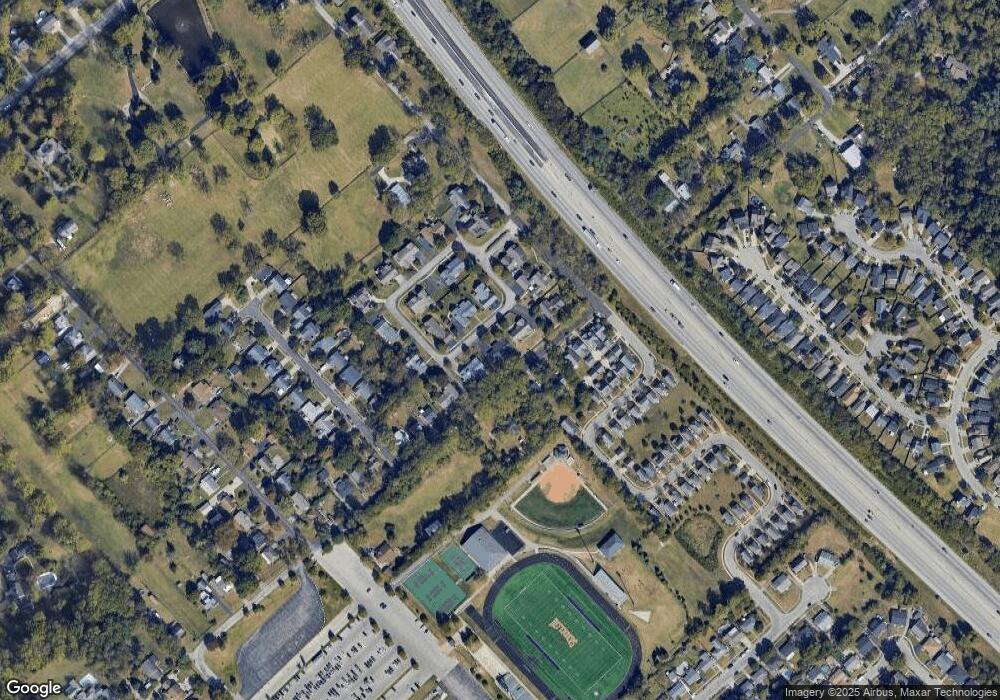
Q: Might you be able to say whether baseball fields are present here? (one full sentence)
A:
Yes, this view includes a baseball field.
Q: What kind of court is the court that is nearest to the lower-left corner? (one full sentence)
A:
I'd say the court that is nearest to the lower-left corner is a tennis court.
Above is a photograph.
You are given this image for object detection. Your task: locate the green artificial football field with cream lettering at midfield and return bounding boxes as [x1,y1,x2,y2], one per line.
[492,561,632,700]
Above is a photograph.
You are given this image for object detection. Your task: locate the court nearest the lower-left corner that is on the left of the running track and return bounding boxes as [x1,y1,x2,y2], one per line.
[404,560,466,614]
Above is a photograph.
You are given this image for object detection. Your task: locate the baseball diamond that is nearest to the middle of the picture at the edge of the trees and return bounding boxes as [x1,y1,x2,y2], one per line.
[512,460,607,530]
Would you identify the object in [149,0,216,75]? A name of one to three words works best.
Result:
pond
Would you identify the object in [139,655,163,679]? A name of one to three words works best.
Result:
house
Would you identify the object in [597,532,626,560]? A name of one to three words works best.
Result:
building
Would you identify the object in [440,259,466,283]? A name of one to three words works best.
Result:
house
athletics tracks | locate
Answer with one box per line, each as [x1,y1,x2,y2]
[463,553,642,700]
